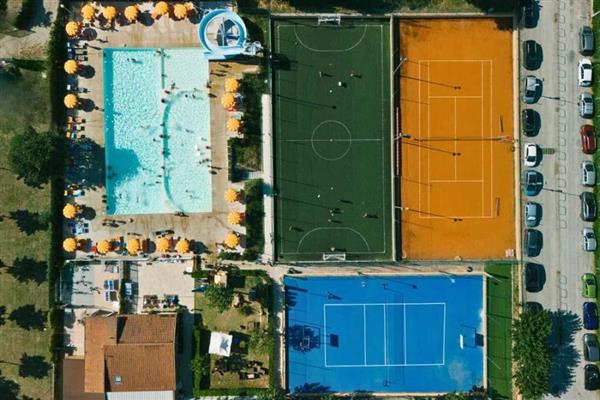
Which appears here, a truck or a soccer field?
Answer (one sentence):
I can see a soccer field in this picture.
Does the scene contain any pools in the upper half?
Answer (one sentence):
Yes, you'll find a pool in the upper half.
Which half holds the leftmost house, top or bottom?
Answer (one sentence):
The leftmost house is in the bottom half of the image.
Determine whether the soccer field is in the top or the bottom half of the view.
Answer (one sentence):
You can find the soccer field in the top half.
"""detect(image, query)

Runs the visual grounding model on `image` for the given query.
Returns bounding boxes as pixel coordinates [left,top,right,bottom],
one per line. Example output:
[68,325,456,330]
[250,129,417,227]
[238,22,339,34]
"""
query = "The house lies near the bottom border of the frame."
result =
[63,312,179,400]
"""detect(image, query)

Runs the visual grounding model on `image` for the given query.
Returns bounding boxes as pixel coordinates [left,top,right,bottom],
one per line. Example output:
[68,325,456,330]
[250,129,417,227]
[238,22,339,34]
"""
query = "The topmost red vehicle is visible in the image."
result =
[579,124,595,155]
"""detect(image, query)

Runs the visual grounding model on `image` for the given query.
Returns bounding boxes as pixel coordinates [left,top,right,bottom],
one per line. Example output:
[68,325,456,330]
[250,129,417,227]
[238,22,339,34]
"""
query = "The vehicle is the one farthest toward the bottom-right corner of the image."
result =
[584,363,599,391]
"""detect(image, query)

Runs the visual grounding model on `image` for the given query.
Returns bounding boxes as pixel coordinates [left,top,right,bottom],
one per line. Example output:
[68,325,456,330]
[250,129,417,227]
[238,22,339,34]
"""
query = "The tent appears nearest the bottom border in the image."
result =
[209,329,234,355]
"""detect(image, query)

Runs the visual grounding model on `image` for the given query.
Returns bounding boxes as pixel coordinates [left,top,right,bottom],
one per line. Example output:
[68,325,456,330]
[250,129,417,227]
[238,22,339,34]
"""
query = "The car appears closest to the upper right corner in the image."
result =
[578,23,595,57]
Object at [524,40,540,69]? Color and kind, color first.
black car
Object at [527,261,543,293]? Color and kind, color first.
black car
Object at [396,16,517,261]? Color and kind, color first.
orange tennis court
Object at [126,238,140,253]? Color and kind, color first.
orange umbrella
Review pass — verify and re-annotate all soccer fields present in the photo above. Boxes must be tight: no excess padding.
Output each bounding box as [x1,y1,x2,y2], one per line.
[272,15,393,262]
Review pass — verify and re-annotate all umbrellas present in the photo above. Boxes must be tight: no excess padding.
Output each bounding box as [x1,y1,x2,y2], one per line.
[227,118,241,132]
[227,210,241,225]
[126,238,140,253]
[81,5,96,20]
[156,237,171,252]
[174,5,189,19]
[64,94,79,110]
[224,233,238,248]
[97,240,111,254]
[125,7,139,22]
[64,60,78,75]
[103,6,117,21]
[63,203,77,218]
[225,77,239,93]
[175,238,190,253]
[155,2,169,18]
[224,189,239,203]
[66,22,81,36]
[221,95,236,110]
[63,238,79,252]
